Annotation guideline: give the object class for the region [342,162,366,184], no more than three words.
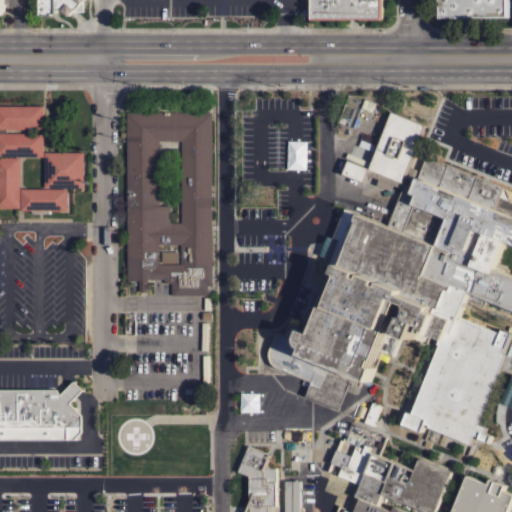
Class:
building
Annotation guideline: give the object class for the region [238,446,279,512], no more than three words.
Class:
building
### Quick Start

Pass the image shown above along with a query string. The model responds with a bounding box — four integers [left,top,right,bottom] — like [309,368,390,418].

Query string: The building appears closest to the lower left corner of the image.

[0,382,87,442]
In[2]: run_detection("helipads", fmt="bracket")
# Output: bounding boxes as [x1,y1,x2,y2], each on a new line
[118,418,154,455]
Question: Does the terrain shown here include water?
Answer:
No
